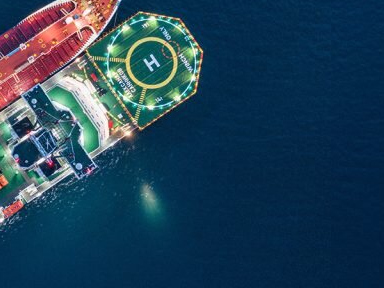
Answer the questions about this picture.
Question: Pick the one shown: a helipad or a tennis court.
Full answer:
The image shows a helipad.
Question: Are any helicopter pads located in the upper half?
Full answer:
Yes, there is a helicopter pad in the upper half.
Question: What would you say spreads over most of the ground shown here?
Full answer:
The bulk of the photo consists of water.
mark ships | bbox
[0,0,122,109]
[0,55,137,223]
